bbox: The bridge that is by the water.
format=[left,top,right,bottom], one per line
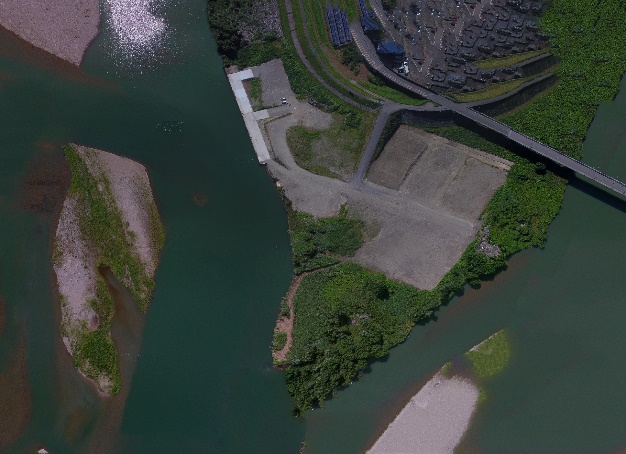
[444,101,626,196]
